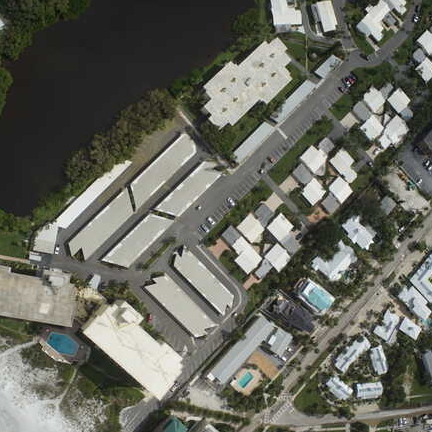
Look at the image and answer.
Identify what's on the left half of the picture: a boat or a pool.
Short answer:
pool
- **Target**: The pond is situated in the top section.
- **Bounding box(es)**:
[0,0,253,216]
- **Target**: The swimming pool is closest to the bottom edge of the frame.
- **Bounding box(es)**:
[231,370,263,396]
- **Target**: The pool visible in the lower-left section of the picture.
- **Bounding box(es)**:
[38,327,90,365]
